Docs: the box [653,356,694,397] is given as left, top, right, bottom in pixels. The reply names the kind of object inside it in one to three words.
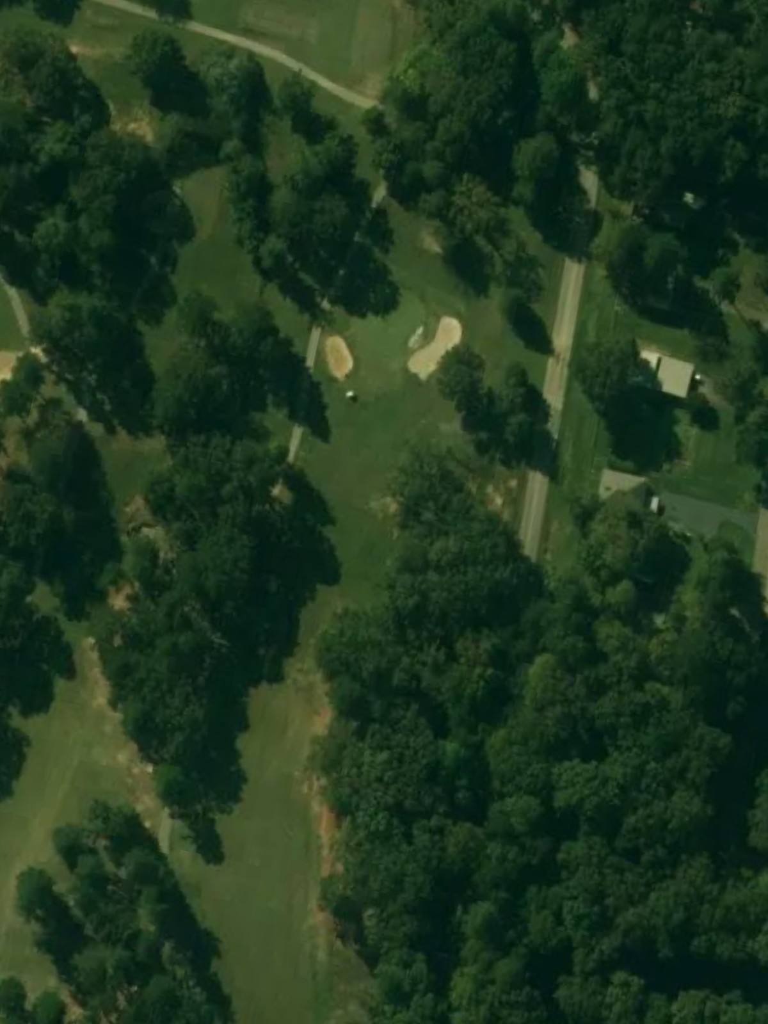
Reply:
building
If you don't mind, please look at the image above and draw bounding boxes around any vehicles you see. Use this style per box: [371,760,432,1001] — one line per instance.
[649,495,660,513]
[346,391,356,399]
